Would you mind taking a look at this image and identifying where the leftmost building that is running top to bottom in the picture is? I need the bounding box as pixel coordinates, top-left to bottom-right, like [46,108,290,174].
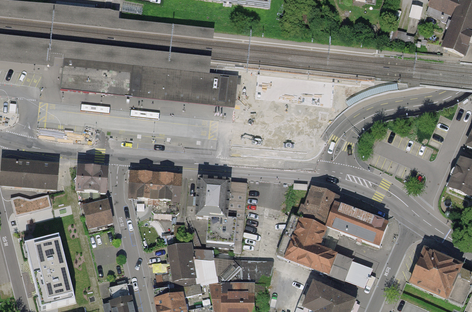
[24,232,76,312]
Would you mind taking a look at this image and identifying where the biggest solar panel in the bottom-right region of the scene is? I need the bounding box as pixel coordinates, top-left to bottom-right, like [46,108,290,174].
[332,218,375,242]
